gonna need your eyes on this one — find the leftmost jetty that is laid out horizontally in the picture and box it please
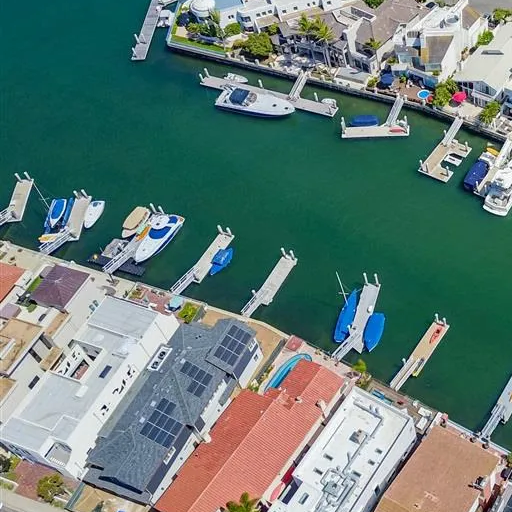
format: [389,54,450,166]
[199,68,337,119]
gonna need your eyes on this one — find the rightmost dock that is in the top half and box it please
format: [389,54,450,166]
[473,132,512,199]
